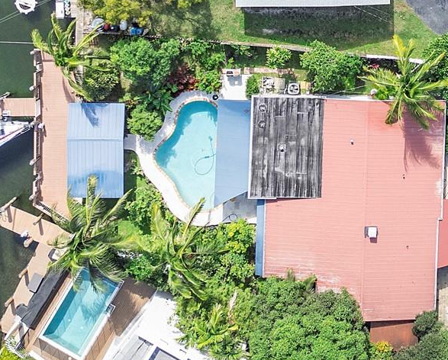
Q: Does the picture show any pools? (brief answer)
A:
Yes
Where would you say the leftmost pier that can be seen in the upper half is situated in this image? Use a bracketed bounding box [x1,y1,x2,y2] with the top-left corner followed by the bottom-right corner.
[0,97,35,117]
